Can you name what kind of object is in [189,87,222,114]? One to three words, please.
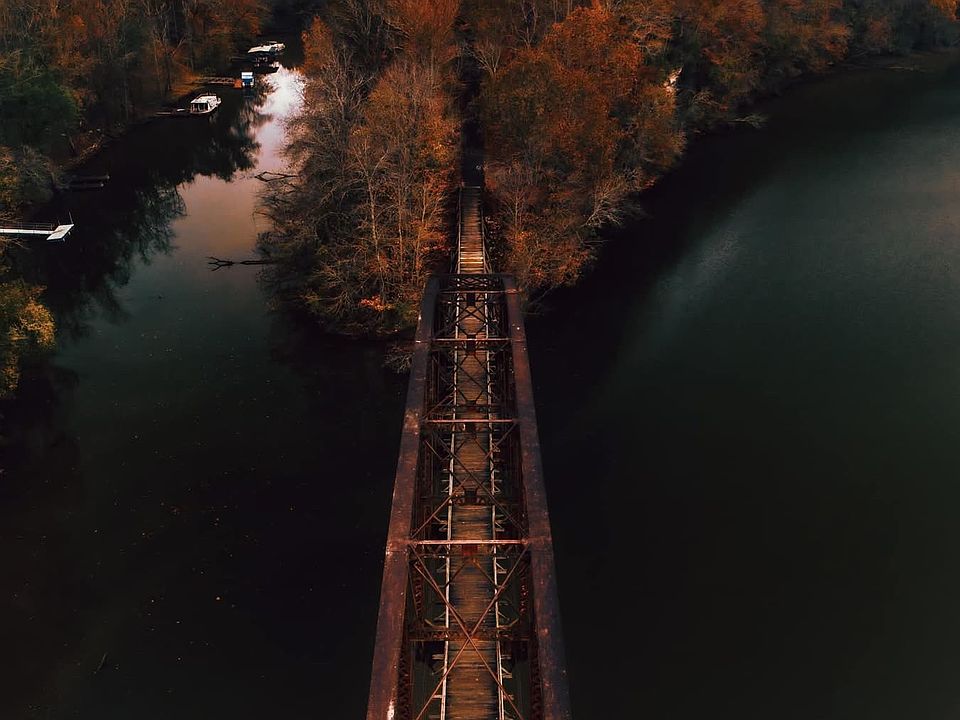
boat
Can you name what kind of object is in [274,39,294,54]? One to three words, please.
boat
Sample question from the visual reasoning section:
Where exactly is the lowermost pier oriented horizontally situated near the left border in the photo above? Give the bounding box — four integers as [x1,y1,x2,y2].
[0,204,82,240]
